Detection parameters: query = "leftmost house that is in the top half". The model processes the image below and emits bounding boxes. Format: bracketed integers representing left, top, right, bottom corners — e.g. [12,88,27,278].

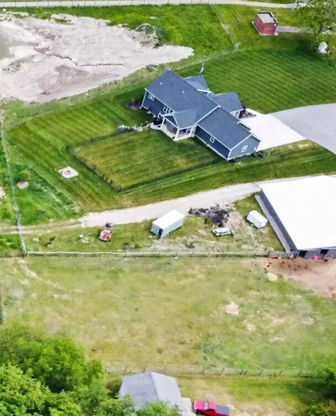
[142,70,260,161]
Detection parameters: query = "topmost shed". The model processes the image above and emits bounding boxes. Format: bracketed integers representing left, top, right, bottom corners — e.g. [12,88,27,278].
[253,10,280,35]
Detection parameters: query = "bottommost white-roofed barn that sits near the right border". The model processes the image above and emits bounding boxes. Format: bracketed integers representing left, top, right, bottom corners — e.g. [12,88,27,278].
[256,176,336,266]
